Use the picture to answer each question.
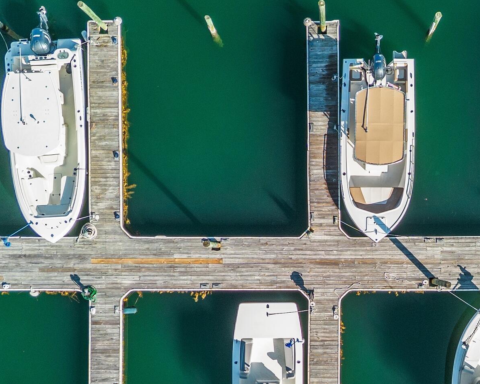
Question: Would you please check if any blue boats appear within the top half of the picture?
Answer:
No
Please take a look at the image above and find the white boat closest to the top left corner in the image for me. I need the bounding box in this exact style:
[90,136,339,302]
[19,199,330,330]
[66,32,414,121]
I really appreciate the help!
[2,3,88,244]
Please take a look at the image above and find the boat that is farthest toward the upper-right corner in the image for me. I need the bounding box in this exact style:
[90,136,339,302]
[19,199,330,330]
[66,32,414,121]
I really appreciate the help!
[339,32,415,243]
